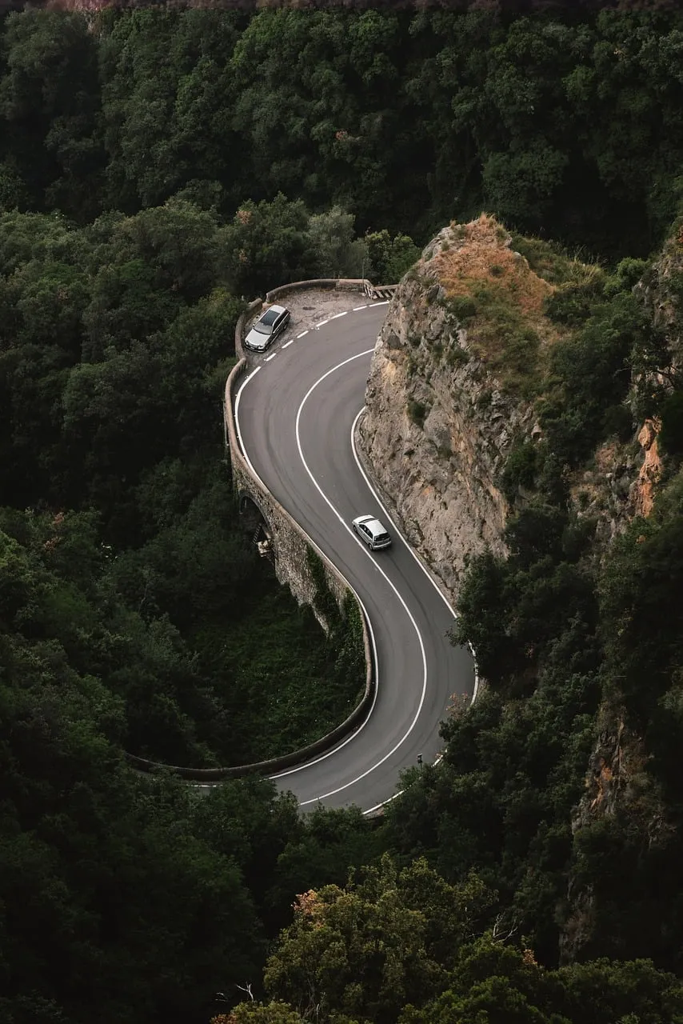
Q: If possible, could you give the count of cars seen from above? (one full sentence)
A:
In total, 2 cars can be seen.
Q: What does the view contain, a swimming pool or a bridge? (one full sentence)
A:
The image shows a bridge.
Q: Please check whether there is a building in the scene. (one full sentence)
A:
No, the picture doesn't show any building.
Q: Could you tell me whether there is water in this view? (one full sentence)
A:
No, the picture contains no water.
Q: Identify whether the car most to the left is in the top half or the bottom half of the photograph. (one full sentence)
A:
Seen from above, the car most to the left lies in the top half of the view.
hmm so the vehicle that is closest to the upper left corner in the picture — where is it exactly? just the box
[245,308,290,350]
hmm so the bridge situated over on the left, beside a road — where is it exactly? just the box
[100,358,372,782]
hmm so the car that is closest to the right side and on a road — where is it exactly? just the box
[353,515,392,550]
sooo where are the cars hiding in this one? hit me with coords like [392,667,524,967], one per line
[353,515,392,550]
[245,308,290,350]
